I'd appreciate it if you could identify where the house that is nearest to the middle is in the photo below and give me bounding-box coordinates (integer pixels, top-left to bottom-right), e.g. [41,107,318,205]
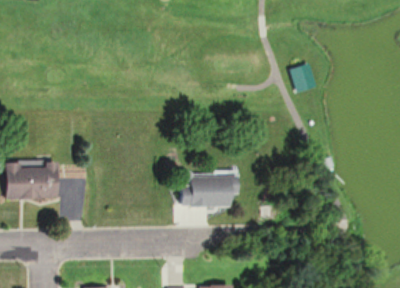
[180,166,240,208]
